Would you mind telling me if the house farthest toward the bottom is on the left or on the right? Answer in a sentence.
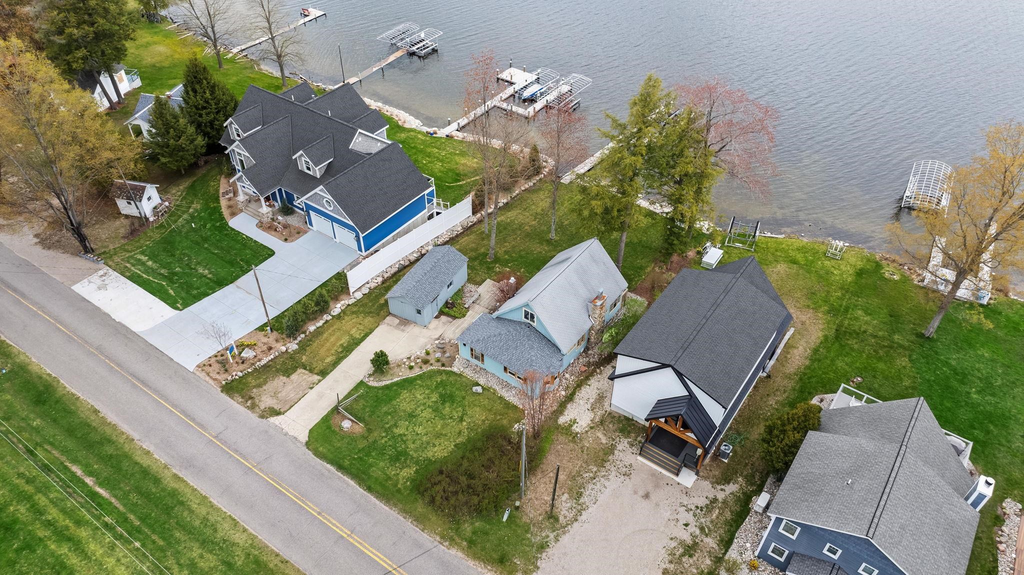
You can find the house farthest toward the bottom on the right side of the picture.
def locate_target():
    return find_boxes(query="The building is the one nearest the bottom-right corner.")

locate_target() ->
[755,384,999,575]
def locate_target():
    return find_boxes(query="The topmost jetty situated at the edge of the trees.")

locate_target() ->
[228,5,327,57]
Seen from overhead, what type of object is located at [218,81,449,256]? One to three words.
house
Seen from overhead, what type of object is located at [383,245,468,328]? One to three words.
shed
